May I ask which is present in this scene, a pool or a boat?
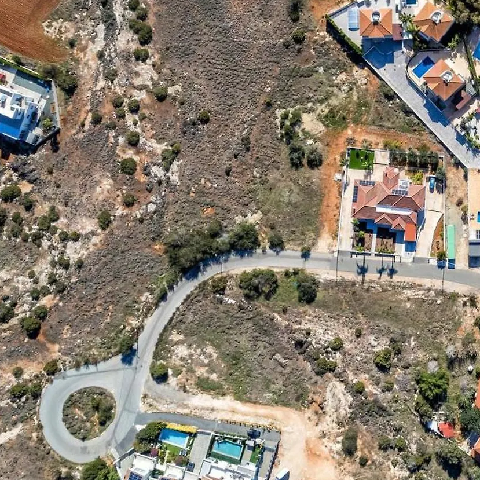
pool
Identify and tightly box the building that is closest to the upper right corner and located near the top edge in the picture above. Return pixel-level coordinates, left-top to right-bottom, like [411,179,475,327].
[413,2,453,41]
